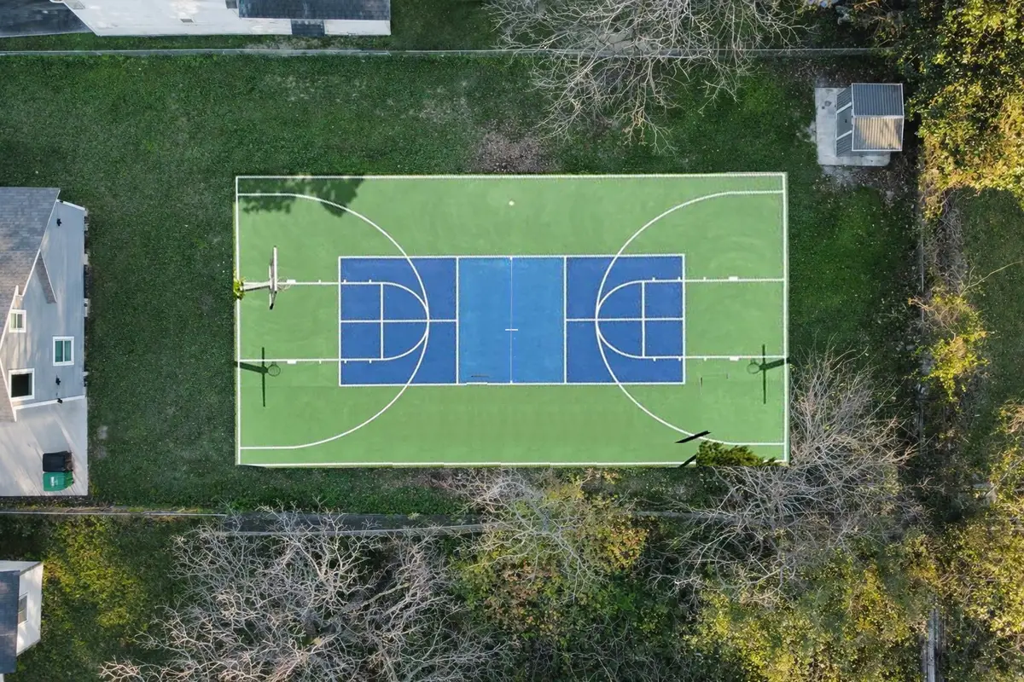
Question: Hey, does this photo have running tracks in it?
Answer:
No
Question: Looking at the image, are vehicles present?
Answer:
No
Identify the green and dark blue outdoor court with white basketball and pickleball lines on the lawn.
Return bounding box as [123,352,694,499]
[234,172,791,467]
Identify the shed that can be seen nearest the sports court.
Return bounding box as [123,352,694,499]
[836,81,907,155]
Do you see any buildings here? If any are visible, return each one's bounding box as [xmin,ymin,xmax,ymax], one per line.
[70,0,391,35]
[0,561,44,676]
[836,81,907,155]
[0,187,90,422]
